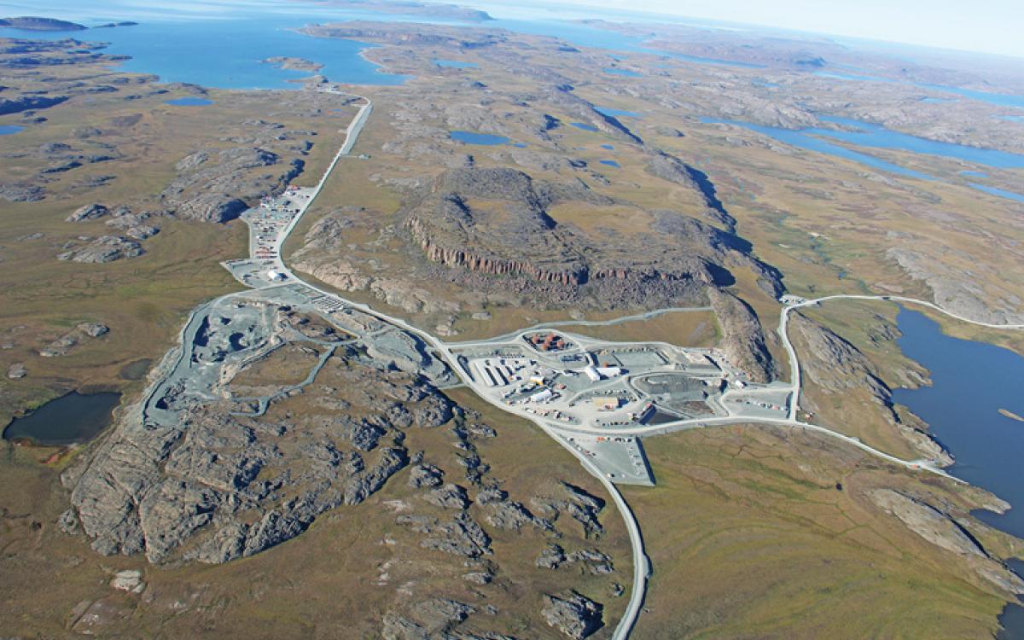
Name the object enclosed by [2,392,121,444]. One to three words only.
pond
